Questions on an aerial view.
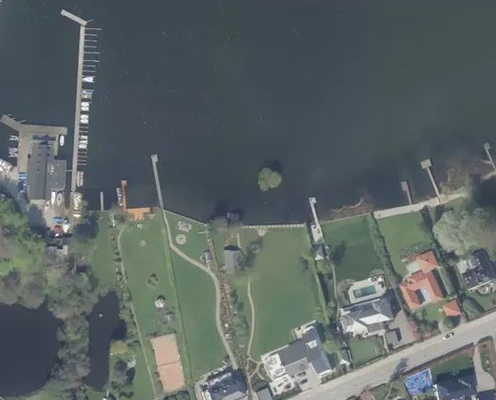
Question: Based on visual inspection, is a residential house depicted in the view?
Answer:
Yes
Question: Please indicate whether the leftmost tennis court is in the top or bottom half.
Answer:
bottom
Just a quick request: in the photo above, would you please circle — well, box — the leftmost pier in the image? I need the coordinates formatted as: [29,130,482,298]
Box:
[0,114,67,174]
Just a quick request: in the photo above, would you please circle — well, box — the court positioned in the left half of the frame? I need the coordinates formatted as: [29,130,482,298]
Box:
[150,334,184,391]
